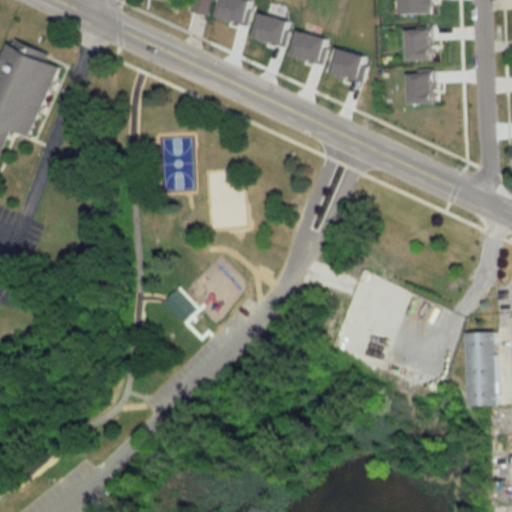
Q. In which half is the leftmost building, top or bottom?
top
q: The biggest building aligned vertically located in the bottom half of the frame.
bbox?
[466,332,499,407]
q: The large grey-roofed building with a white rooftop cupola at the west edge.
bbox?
[0,41,58,152]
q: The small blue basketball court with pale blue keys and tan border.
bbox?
[158,132,200,196]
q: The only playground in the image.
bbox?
[188,256,248,326]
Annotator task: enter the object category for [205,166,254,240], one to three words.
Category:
sports court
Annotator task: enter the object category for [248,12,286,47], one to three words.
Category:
house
